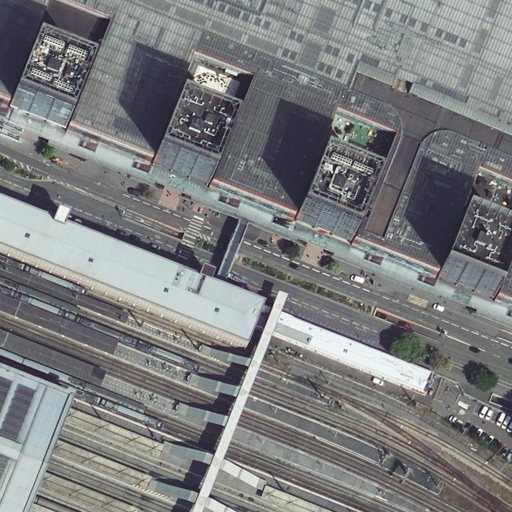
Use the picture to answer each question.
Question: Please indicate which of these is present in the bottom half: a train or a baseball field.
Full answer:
It is a train that can be seen in the bottom half.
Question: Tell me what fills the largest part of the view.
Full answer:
The scene is dominated by buildings.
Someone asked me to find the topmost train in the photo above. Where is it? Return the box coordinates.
[0,254,87,296]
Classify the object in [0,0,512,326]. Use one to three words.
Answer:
building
